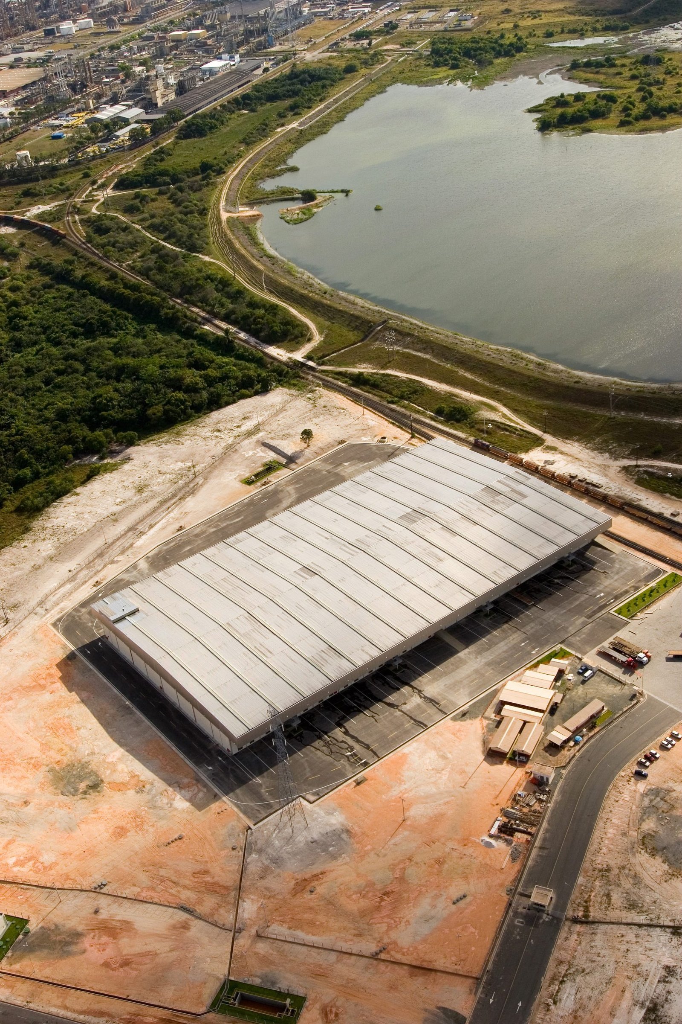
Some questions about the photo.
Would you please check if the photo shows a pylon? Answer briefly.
Yes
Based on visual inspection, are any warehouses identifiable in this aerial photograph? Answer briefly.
Yes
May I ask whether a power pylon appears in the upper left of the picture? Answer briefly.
No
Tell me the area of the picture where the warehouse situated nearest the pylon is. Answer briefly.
center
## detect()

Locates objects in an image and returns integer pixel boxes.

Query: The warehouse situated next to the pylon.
[90,437,622,754]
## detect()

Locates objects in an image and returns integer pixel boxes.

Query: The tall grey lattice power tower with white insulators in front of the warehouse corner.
[268,708,307,833]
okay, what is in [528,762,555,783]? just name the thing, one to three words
building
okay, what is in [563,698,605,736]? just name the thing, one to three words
shed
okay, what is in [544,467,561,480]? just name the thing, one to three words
rail car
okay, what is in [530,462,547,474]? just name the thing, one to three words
rail car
